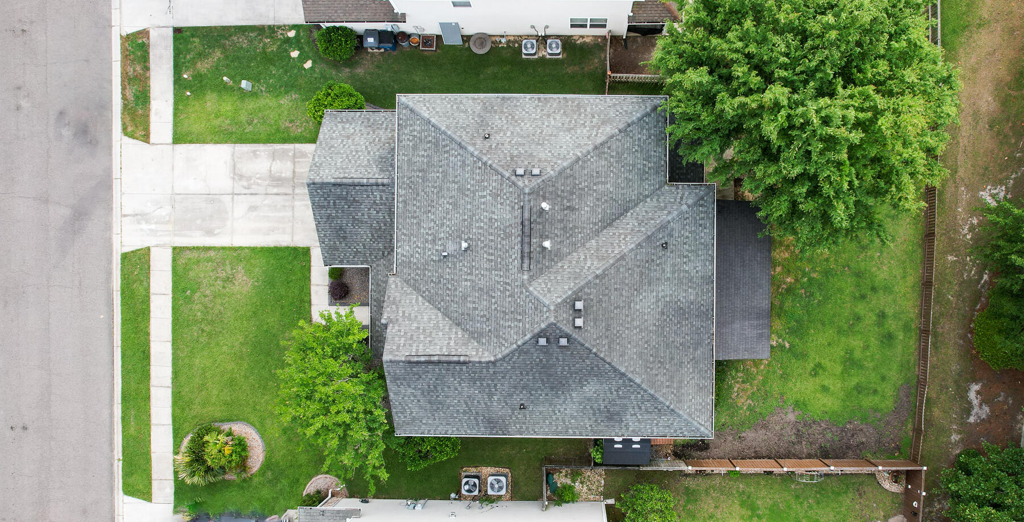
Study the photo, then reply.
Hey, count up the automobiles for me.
0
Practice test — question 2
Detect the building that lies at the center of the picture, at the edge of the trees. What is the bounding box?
[307,94,771,438]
